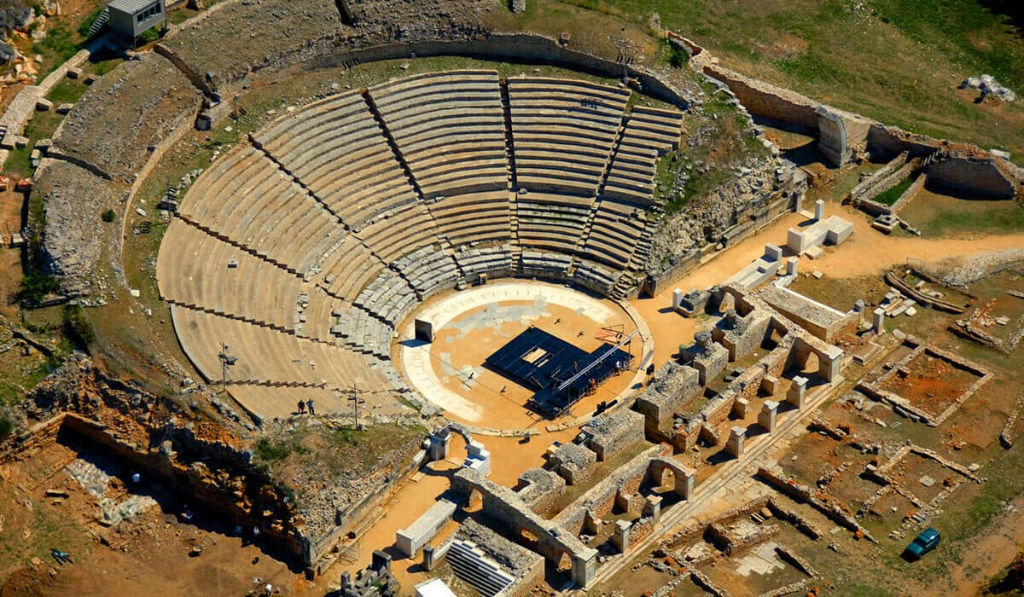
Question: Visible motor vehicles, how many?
1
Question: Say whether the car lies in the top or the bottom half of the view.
bottom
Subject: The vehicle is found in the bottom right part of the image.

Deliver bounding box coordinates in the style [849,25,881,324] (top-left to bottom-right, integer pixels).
[904,522,946,559]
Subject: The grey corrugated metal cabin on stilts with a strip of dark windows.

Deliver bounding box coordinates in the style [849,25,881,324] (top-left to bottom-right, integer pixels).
[106,0,169,53]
